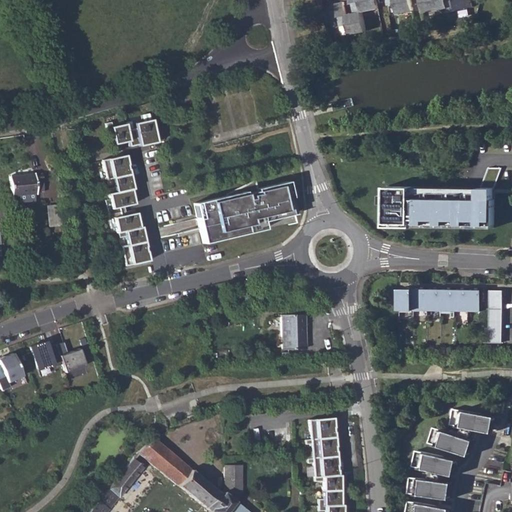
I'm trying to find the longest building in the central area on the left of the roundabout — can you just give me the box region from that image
[193,182,300,244]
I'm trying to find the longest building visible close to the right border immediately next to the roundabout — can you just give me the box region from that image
[373,188,494,230]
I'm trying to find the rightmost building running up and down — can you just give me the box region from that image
[486,290,502,343]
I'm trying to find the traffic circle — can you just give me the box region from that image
[294,213,368,288]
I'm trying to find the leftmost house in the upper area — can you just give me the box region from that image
[12,168,40,203]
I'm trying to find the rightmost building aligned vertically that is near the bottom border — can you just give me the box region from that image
[304,418,346,512]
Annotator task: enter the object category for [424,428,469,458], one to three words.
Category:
house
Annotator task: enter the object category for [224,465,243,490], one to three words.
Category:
shed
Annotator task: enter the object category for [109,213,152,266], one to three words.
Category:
building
